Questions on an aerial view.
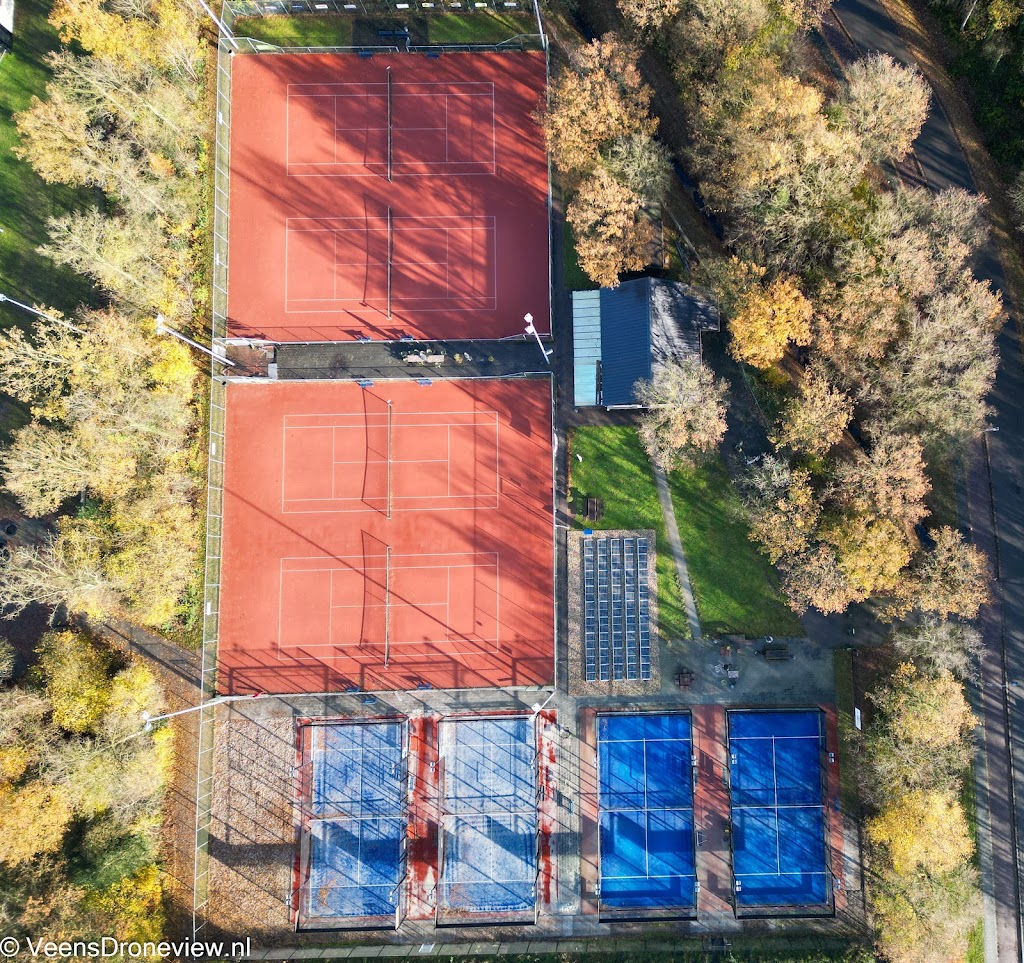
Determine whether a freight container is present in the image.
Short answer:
No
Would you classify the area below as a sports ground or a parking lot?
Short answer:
sports ground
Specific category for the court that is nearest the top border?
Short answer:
tennis court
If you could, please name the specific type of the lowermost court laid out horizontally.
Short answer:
tennis court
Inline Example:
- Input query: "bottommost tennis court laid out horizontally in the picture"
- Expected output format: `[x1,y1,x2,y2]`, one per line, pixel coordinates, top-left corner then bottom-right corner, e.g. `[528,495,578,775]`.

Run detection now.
[217,529,555,695]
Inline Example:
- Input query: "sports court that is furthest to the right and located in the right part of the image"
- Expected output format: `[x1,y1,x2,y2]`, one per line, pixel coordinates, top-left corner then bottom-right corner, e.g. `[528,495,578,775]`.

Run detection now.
[727,708,842,919]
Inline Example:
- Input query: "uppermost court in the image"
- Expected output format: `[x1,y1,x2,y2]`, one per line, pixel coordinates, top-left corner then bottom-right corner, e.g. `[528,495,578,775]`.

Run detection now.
[230,51,549,194]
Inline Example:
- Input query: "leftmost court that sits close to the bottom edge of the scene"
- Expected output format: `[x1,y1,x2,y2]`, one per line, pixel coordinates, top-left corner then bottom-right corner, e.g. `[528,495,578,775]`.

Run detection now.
[285,719,410,933]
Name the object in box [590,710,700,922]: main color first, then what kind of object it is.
blue sports court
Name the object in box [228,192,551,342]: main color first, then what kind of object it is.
red tennis court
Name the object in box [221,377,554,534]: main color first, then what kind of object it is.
red tennis court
